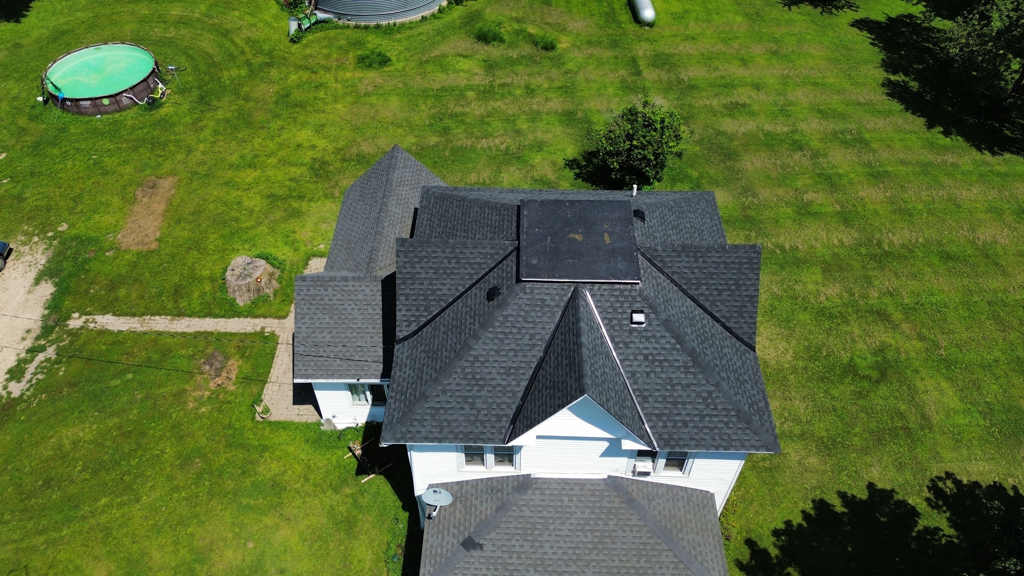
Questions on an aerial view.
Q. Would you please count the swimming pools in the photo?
1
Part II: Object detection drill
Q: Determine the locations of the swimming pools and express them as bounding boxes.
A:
[41,41,161,115]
